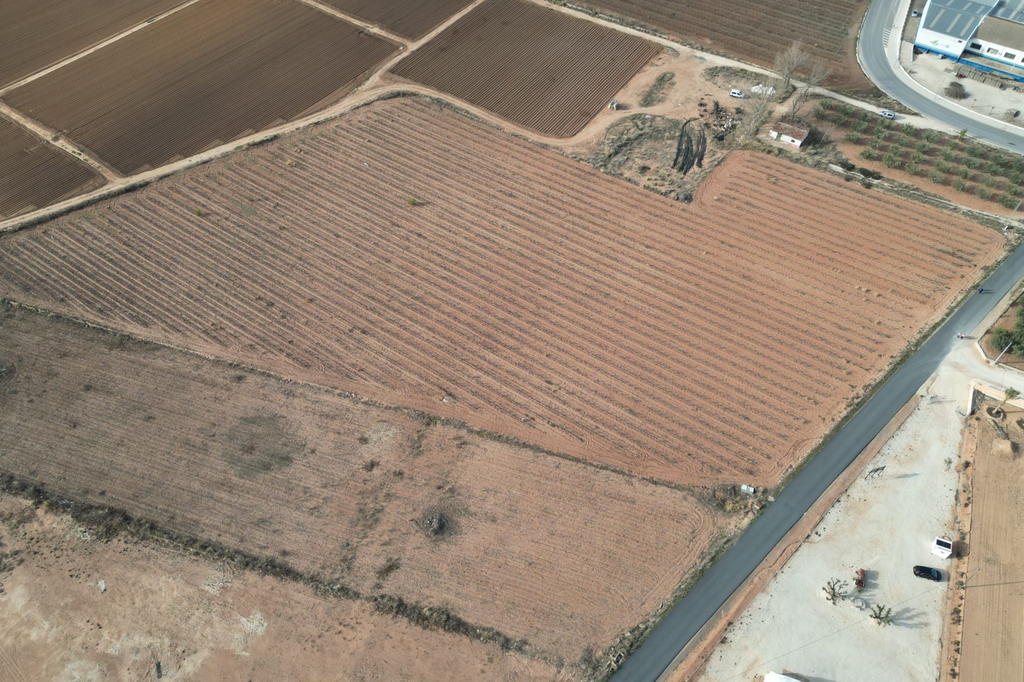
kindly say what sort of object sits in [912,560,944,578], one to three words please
car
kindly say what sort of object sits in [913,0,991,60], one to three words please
building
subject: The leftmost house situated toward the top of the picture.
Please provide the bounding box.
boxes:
[770,119,809,147]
